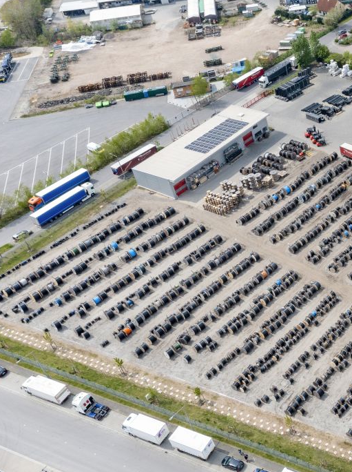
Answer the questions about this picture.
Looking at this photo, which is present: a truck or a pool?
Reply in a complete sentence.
I can see a truck in this picture.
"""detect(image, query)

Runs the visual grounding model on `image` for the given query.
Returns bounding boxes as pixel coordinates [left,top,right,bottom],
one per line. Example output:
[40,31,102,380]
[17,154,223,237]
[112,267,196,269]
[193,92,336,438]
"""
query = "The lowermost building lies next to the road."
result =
[129,104,273,200]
